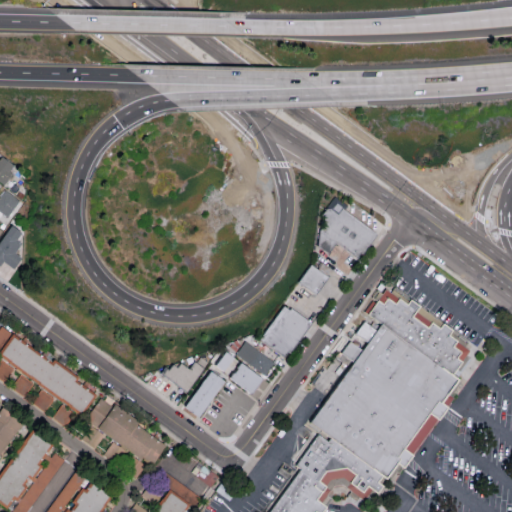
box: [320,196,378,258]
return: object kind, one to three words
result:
building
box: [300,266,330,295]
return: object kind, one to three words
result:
building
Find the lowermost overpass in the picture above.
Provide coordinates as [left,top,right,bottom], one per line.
[112,63,470,108]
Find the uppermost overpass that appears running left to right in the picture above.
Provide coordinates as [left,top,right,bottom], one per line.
[50,6,258,38]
